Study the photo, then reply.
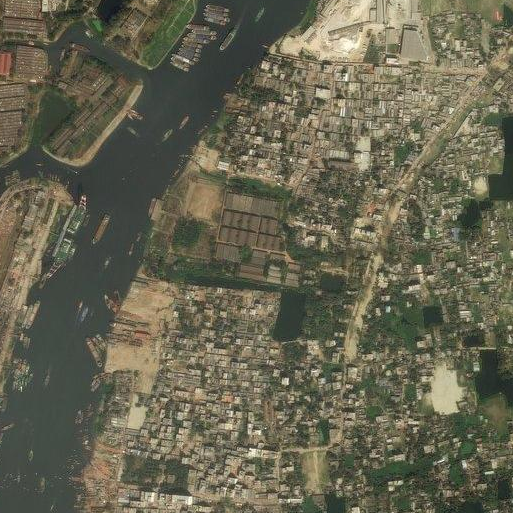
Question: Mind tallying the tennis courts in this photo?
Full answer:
There are no tennis courts in the image.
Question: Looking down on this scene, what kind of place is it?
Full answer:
This looks like a residential area.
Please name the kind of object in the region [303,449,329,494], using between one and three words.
sports field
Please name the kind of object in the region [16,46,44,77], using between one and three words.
building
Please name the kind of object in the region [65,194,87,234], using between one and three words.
ship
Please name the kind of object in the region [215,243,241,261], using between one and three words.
building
